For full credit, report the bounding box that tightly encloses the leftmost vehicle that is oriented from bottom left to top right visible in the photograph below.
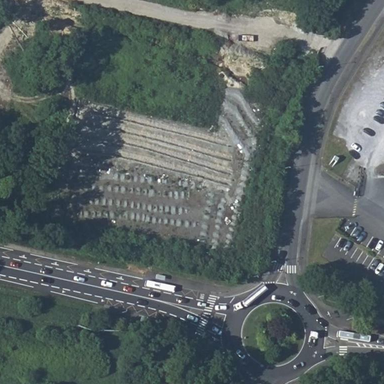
[234,284,268,312]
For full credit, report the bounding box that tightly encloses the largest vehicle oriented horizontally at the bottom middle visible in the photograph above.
[145,279,176,292]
